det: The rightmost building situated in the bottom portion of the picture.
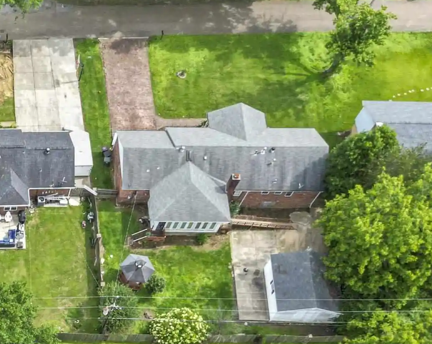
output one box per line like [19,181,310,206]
[259,242,340,322]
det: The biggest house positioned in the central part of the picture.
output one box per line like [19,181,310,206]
[112,93,332,244]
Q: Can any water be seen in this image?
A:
No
